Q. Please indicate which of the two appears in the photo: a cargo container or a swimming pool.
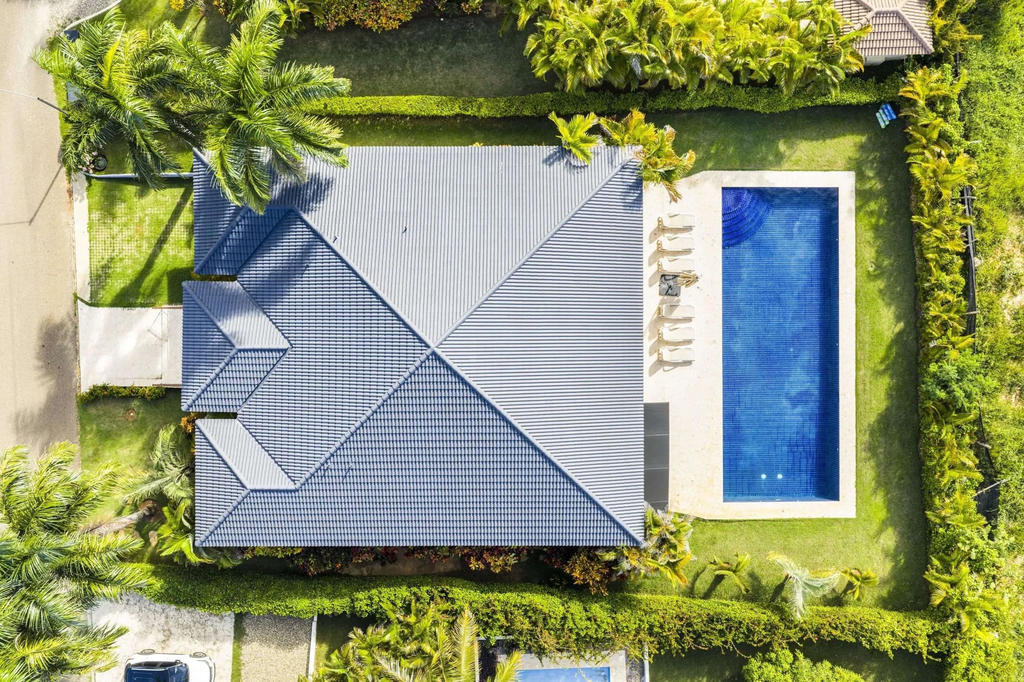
swimming pool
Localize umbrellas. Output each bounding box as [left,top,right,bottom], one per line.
[661,271,698,294]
